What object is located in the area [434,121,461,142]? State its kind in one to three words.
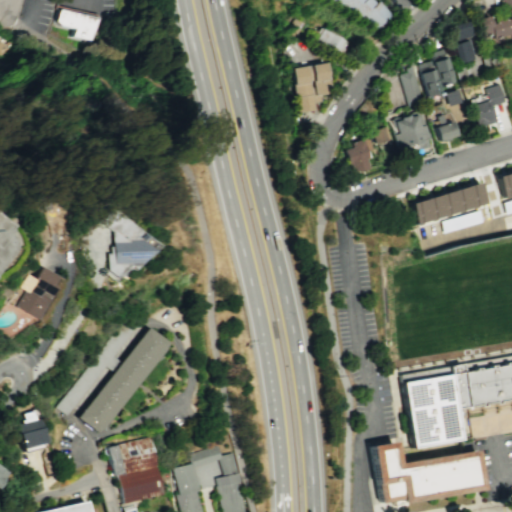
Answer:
house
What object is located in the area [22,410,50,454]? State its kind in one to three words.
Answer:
house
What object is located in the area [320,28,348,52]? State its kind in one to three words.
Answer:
building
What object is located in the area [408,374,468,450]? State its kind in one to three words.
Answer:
building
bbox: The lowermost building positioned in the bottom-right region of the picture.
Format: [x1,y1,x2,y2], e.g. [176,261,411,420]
[380,444,491,504]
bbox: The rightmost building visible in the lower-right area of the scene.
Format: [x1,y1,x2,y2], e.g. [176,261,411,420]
[460,365,512,408]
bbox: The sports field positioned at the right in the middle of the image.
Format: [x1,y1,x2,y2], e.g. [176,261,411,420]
[395,234,512,370]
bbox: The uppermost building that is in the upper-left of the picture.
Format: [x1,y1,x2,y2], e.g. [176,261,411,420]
[56,4,102,42]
